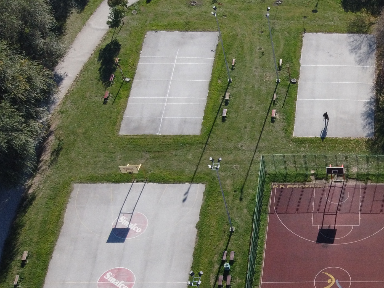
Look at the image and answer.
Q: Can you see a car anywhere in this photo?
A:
No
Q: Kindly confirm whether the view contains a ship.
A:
No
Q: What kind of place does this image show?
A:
sports ground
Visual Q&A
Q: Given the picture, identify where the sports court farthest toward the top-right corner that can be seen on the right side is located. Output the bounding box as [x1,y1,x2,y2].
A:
[294,33,376,137]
